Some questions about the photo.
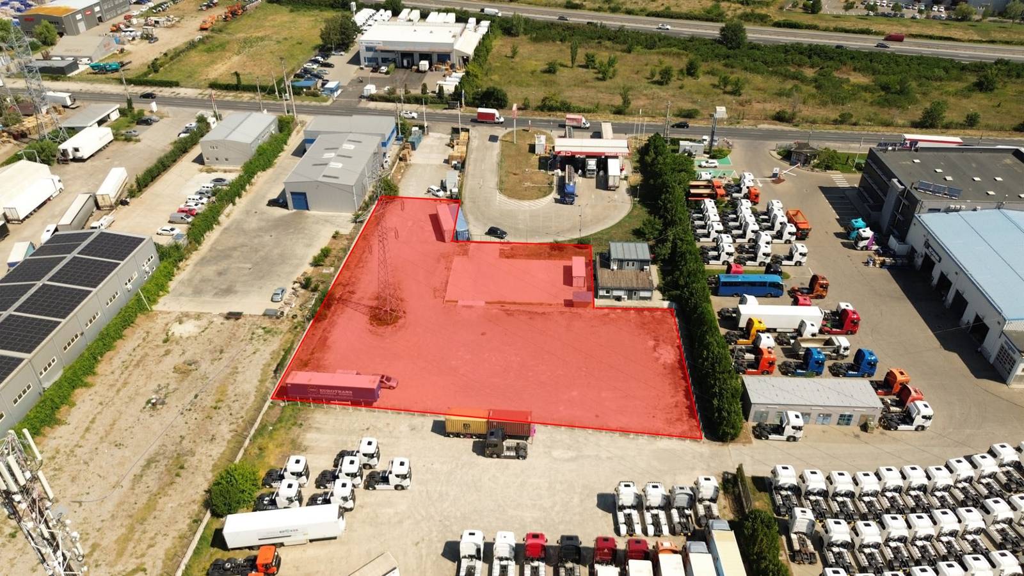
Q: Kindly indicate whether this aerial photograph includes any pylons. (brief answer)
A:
Yes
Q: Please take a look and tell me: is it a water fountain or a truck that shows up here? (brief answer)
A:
truck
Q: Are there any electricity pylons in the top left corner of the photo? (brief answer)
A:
Yes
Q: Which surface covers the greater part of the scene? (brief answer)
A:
paved ground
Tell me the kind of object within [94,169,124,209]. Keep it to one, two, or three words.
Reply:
trailer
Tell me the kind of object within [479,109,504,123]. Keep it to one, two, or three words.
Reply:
vehicle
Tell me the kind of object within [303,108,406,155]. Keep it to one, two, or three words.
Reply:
building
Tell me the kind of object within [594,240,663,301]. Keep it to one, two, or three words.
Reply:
house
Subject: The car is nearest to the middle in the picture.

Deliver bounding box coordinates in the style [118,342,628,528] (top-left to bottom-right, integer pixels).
[486,222,509,236]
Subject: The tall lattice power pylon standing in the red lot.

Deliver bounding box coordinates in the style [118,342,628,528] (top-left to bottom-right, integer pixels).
[355,147,412,329]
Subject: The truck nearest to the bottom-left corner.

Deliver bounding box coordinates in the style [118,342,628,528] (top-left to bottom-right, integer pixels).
[225,543,285,576]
